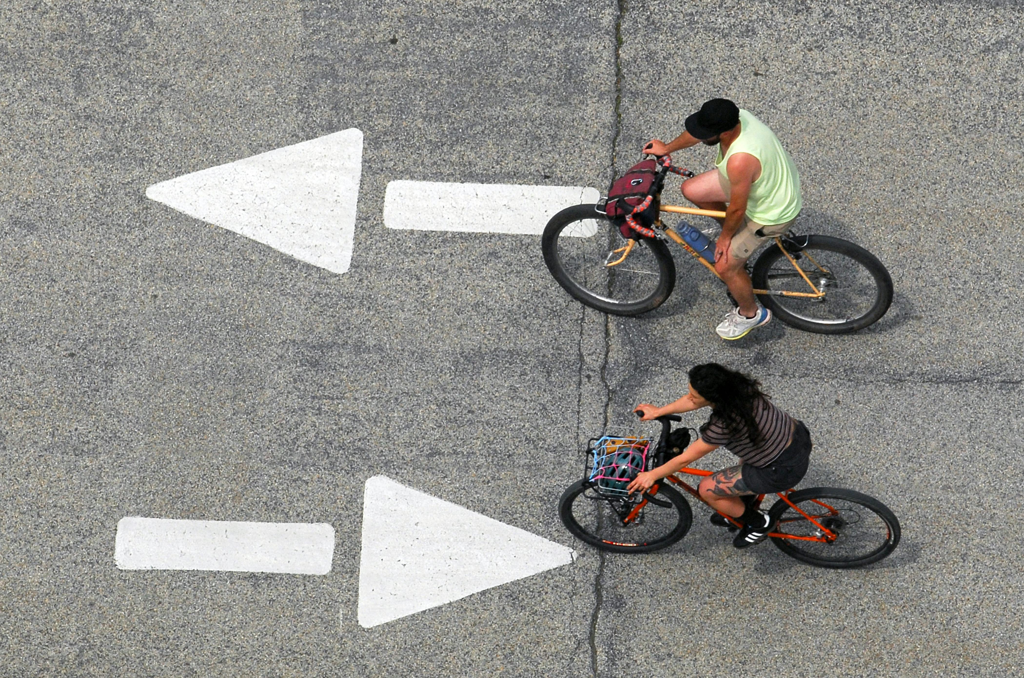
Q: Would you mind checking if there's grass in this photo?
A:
No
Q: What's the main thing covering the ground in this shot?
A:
paved ground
